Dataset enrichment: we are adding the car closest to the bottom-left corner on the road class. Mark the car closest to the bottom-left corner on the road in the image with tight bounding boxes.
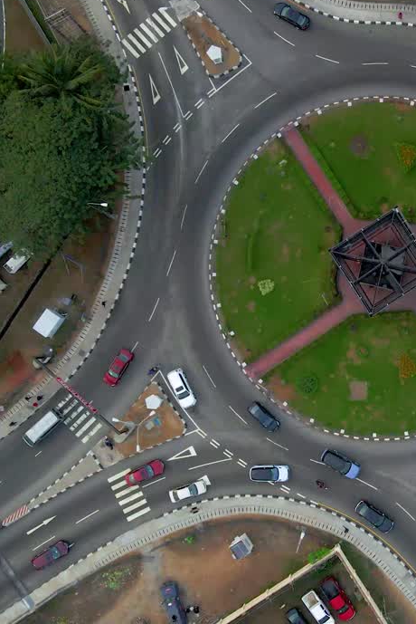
[28,539,71,572]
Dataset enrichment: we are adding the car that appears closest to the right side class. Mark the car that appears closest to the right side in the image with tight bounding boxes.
[353,499,396,532]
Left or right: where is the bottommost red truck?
right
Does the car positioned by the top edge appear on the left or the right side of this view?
right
